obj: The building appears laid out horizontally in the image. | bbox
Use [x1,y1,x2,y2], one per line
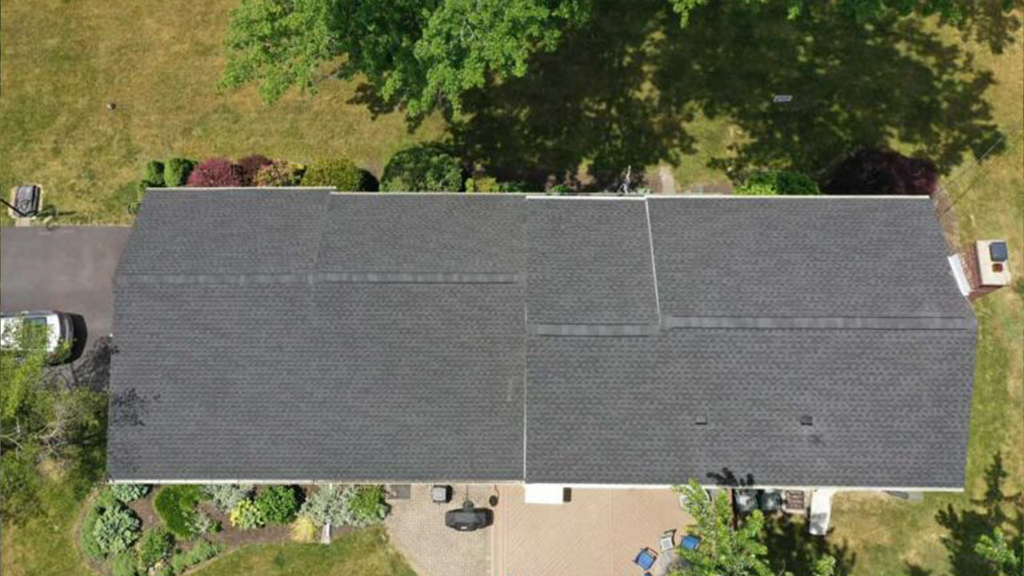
[109,186,1011,492]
